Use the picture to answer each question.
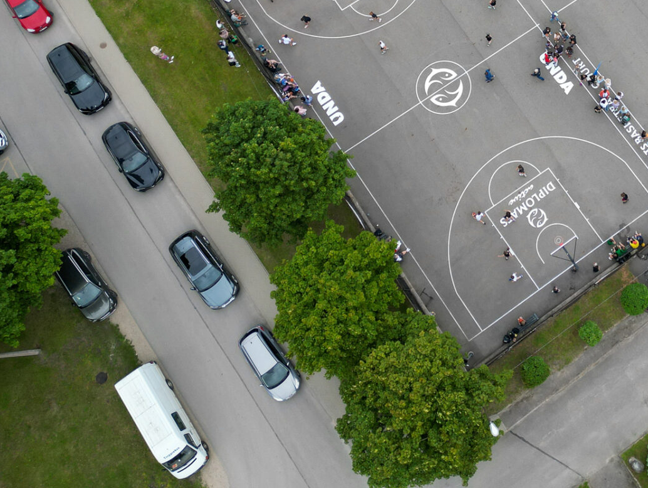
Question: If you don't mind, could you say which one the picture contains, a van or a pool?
van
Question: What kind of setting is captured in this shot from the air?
sports ground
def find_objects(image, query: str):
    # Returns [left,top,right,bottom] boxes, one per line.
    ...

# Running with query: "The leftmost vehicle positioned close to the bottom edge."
[112,359,210,480]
